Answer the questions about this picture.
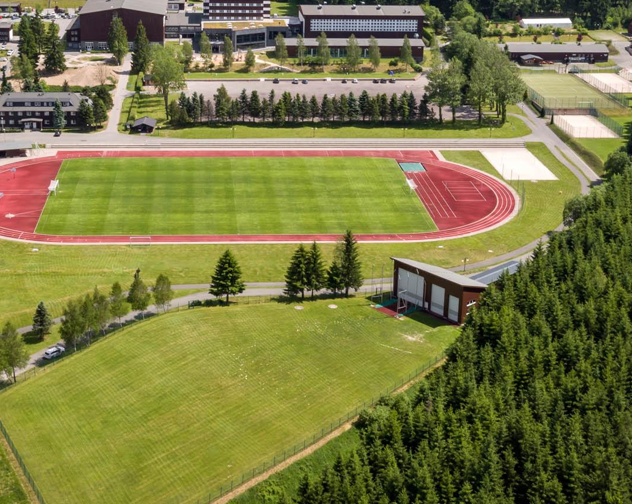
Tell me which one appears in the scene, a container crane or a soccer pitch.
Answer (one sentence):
This aerial view contains a soccer pitch.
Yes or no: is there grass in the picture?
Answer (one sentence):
Yes, grass can be seen from above here.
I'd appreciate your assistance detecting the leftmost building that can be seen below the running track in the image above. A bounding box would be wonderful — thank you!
[389,257,490,324]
